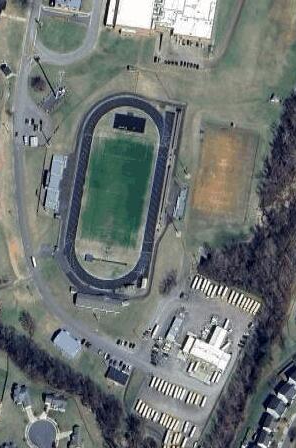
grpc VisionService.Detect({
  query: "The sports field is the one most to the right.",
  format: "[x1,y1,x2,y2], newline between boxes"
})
[190,126,252,219]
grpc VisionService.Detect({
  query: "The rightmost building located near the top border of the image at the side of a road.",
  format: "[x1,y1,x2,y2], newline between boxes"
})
[158,0,215,42]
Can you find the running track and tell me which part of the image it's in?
center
